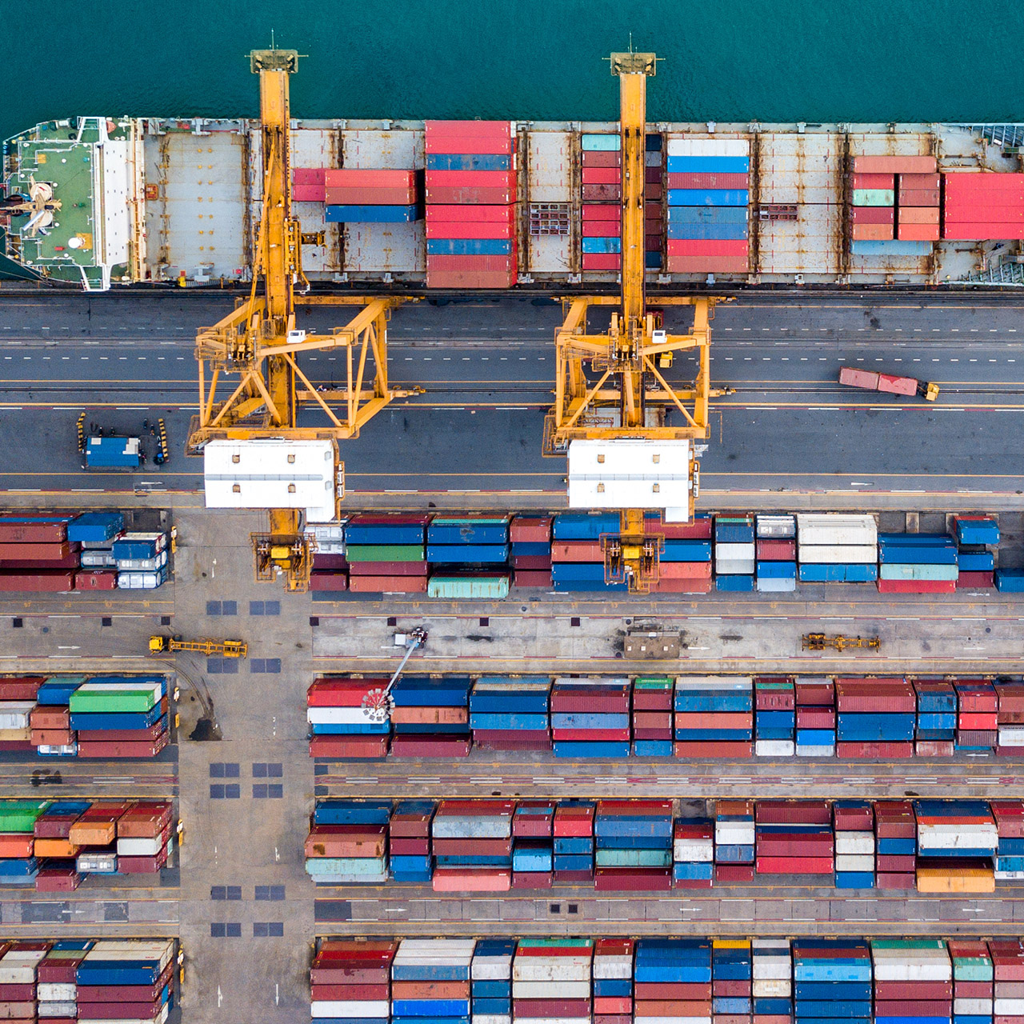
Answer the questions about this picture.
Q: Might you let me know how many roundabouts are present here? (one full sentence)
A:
Not a single roundabout can be seen.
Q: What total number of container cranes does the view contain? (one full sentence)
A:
My tally gives 2 container cranes in this view.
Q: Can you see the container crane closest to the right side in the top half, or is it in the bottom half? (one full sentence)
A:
The container crane closest to the right side sits in the top half of the picture.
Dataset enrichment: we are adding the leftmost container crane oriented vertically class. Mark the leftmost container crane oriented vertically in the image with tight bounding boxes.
[191,33,419,596]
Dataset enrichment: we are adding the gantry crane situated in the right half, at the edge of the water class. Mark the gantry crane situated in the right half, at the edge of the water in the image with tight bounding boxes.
[543,43,735,596]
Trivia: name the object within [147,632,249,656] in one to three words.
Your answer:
truck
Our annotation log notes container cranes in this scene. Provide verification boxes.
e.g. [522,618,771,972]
[191,33,419,596]
[543,43,735,596]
